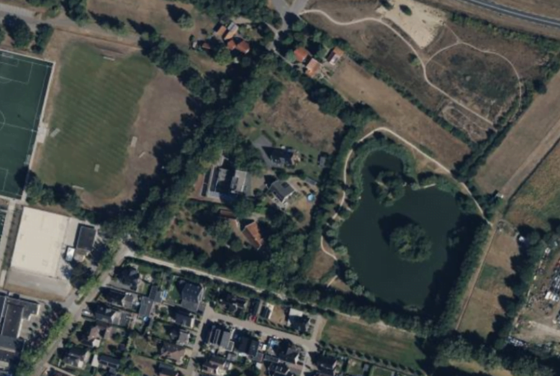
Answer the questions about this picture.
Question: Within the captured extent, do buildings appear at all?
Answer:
Yes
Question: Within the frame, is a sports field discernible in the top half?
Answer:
Yes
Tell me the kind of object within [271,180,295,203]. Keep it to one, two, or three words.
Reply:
house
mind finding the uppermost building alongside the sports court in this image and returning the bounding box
[76,225,97,251]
